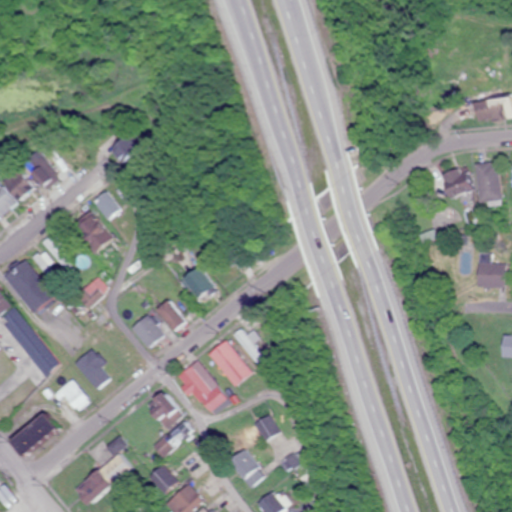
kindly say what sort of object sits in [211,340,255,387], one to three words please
house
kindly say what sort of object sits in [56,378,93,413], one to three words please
building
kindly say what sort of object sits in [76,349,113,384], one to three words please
house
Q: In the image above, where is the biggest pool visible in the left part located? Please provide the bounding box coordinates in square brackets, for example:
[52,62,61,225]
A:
[74,254,90,270]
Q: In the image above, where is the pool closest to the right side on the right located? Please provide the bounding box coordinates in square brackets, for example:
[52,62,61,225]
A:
[458,248,474,278]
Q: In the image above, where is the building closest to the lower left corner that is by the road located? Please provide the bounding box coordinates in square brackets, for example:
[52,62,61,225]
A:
[10,412,57,457]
